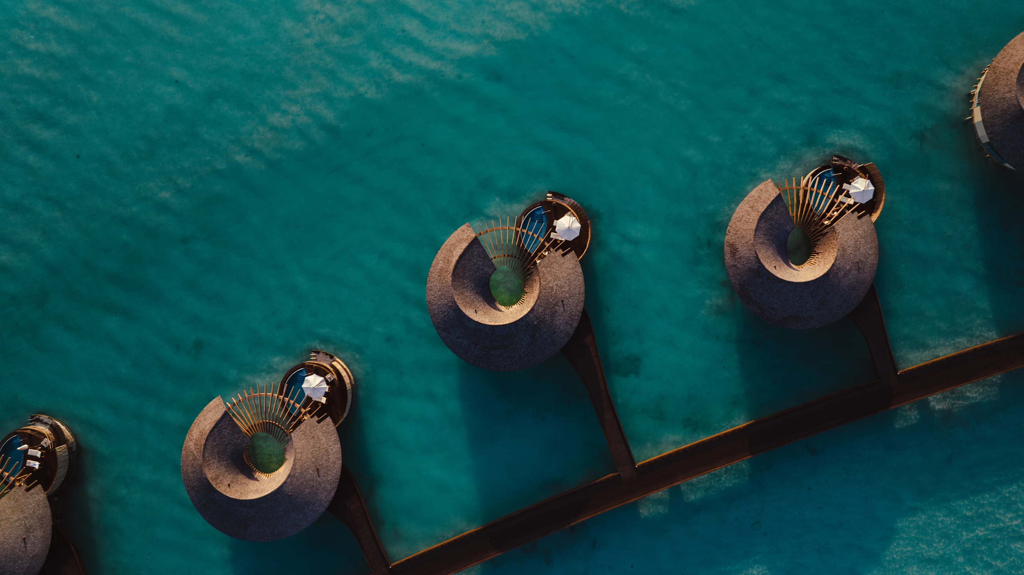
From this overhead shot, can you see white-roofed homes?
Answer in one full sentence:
No, I can see no white-roofed home in this picture.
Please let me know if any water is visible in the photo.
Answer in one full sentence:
Yes, there is water in the image.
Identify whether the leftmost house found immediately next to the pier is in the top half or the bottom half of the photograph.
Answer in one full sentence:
You can find the leftmost house found immediately next to the pier in the bottom half.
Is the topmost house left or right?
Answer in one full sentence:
The topmost house appears in the right half of the scene.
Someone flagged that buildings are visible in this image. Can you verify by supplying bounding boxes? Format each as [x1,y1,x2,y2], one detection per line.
[426,216,585,372]
[0,457,58,575]
[723,179,878,329]
[966,31,1024,172]
[182,385,342,544]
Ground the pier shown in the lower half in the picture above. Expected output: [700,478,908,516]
[364,330,1024,575]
